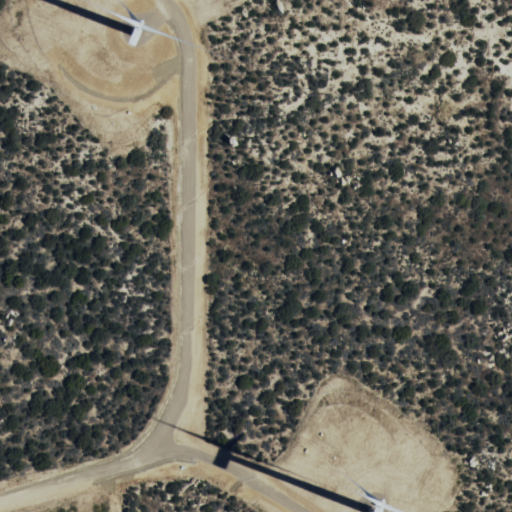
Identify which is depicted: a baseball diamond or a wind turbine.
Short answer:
wind turbine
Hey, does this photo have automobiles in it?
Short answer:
No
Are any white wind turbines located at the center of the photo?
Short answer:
No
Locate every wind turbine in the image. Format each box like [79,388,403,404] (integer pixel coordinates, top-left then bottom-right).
[347,473,406,512]
[96,4,206,48]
